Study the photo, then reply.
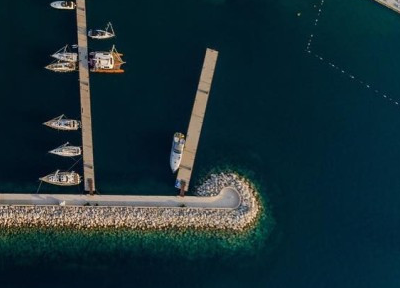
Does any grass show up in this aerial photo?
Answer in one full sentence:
No, there is no grass in the image.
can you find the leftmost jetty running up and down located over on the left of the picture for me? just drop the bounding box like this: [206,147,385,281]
[75,0,95,198]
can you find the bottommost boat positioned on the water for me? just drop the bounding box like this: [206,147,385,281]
[40,172,81,186]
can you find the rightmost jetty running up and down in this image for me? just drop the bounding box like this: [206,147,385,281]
[175,48,218,197]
